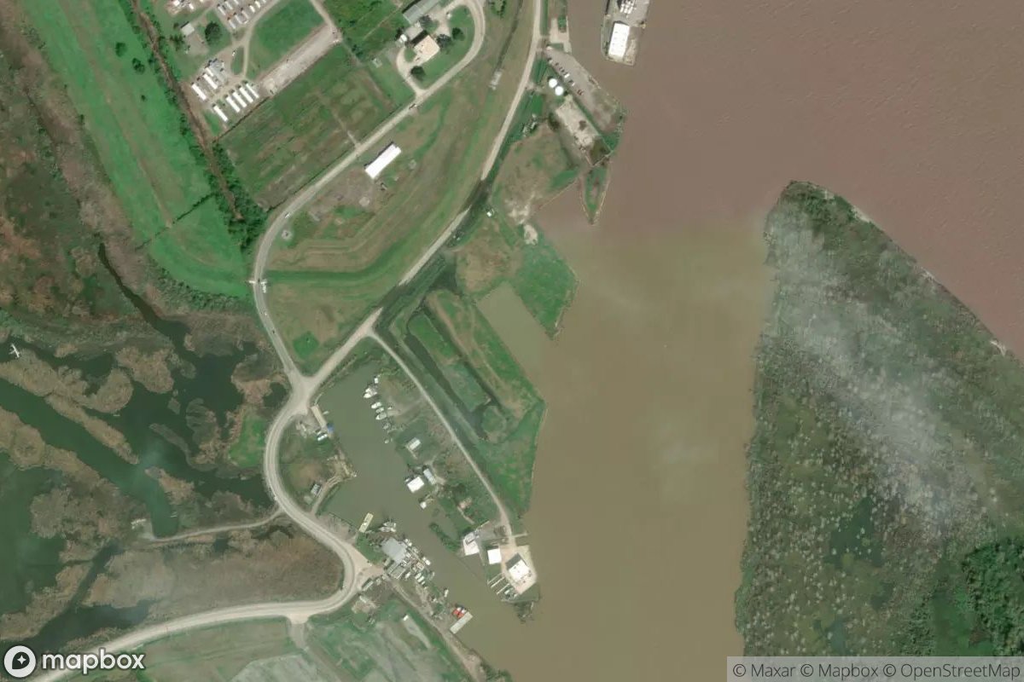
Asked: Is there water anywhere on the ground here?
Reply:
Yes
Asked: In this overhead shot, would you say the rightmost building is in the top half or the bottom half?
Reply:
top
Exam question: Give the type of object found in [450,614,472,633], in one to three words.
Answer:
ship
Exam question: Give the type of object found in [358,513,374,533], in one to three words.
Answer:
ship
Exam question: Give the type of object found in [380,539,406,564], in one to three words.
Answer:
shed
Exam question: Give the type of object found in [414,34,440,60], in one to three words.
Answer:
building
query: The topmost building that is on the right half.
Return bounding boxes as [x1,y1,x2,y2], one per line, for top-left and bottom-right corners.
[608,22,630,58]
